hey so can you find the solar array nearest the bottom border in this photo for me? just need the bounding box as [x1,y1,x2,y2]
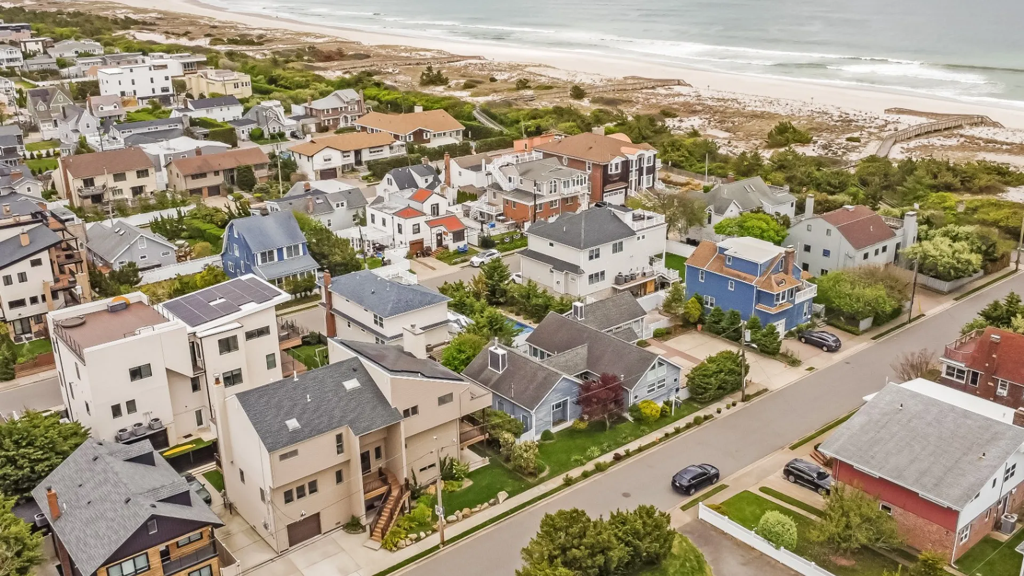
[336,340,468,382]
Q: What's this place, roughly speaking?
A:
residential area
